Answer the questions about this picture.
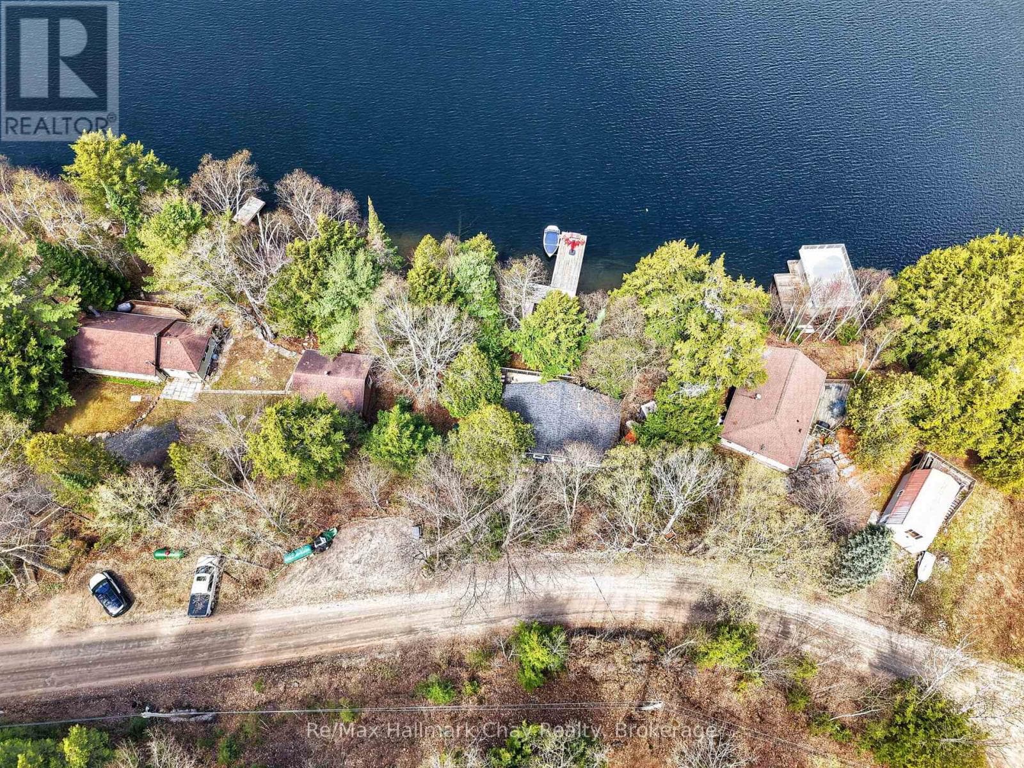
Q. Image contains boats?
Yes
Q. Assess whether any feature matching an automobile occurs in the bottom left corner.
Yes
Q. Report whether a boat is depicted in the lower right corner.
Yes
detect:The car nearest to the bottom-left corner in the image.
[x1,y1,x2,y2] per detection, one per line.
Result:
[91,574,128,620]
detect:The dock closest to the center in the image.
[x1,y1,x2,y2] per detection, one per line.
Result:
[552,232,588,295]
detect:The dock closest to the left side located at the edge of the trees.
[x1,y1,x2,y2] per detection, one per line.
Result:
[233,197,269,229]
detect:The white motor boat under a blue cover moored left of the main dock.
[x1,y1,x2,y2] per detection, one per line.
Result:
[543,221,559,260]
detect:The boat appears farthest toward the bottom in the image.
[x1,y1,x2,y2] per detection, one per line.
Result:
[912,549,942,599]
